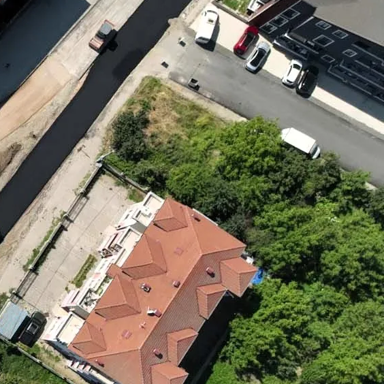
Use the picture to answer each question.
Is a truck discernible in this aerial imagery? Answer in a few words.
Yes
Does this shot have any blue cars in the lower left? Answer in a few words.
No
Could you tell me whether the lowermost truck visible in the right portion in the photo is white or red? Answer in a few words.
white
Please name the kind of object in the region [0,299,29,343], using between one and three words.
shed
